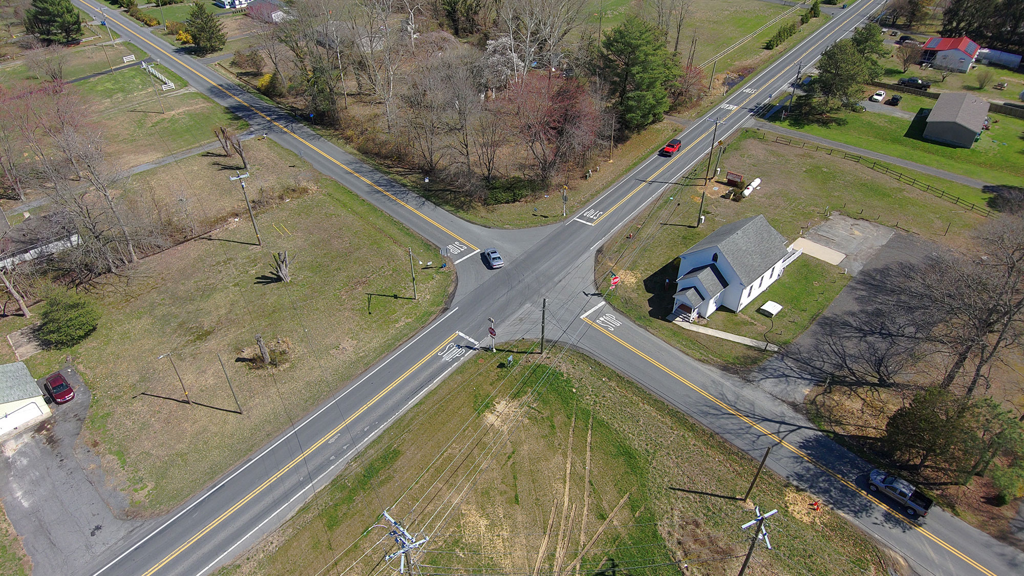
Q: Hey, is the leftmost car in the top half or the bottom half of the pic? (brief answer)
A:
bottom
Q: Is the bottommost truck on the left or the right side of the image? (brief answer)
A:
right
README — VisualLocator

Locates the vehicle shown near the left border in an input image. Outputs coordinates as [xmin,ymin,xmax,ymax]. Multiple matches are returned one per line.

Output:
[41,371,73,403]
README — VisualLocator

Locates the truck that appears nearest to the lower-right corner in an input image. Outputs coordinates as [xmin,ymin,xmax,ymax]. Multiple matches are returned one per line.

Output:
[868,471,943,524]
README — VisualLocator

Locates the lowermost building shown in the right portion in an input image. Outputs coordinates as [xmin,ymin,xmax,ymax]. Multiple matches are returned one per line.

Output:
[666,214,809,324]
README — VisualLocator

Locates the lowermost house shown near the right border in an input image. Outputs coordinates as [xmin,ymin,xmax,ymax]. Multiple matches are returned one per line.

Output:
[923,92,990,147]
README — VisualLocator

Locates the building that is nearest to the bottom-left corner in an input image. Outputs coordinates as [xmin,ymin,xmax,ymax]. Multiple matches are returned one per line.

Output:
[0,364,52,439]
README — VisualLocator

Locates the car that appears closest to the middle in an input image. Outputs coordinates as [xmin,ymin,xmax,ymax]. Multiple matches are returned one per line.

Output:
[481,248,505,270]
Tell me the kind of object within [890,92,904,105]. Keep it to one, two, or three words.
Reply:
vehicle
